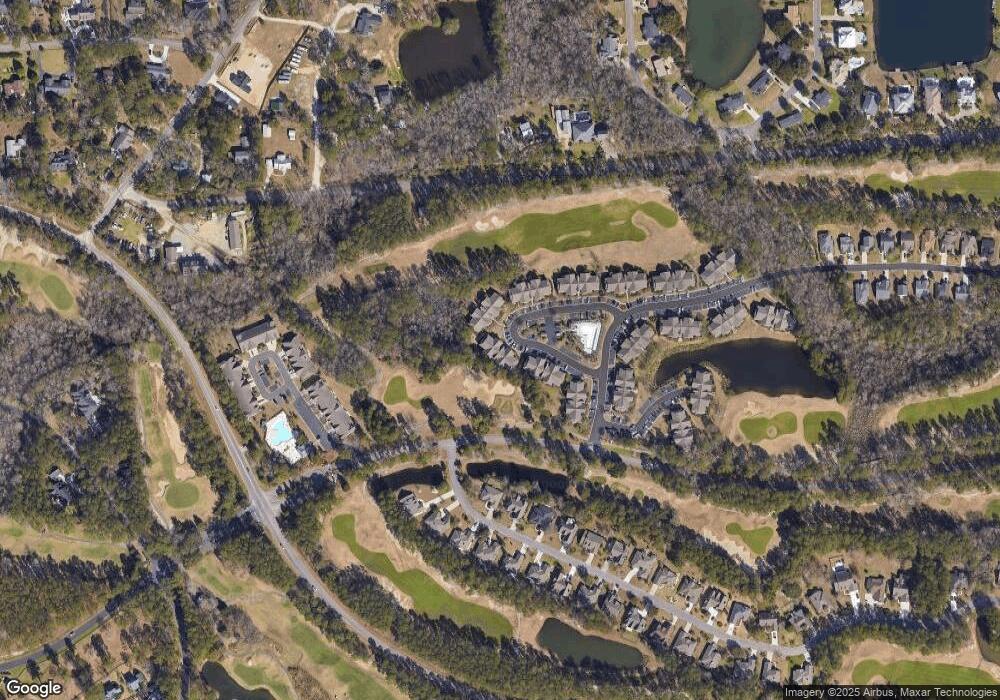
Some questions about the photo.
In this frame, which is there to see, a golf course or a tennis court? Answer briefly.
golf course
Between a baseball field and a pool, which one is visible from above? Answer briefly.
pool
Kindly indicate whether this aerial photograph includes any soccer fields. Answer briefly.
No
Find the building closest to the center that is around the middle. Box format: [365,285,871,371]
[479,334,520,368]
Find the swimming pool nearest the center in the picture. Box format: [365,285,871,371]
[572,320,602,354]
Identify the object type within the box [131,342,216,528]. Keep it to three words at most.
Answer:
golf course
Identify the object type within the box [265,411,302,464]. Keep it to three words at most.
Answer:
swimming pool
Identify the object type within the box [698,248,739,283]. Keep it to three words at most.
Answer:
building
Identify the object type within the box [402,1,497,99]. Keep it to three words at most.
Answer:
pond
